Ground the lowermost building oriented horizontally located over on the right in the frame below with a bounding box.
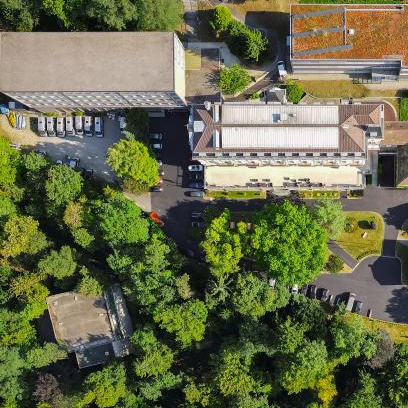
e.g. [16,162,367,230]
[190,102,385,197]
